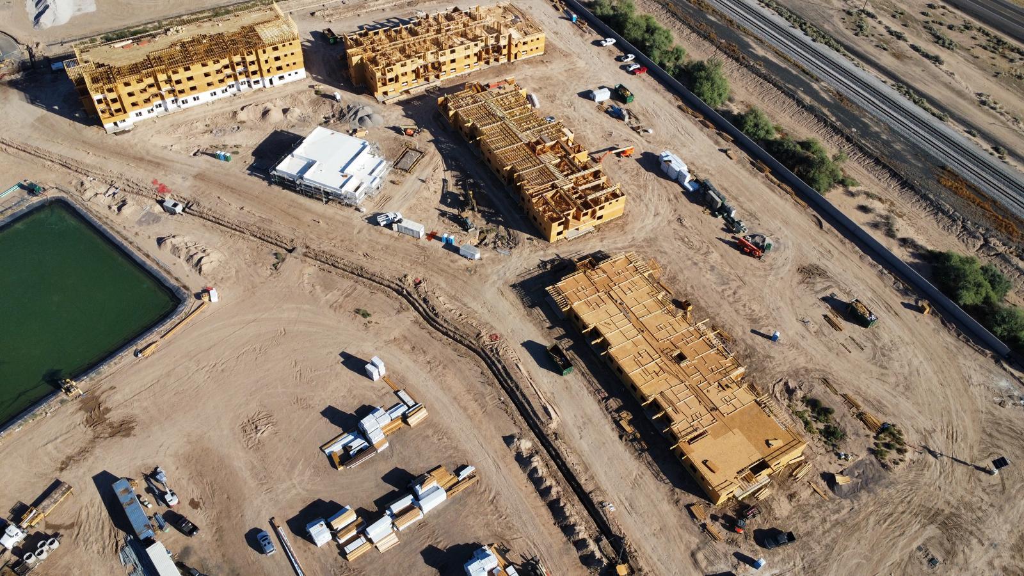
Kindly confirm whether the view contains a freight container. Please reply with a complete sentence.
Yes, a freight container appears in the view.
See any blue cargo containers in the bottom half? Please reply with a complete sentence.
Yes, there is a blue cargo container in the bottom half.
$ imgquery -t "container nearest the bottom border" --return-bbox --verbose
[146,542,178,576]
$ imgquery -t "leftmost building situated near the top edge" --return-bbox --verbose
[64,0,307,135]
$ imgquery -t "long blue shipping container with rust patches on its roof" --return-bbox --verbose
[112,478,159,548]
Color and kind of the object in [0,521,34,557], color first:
white truck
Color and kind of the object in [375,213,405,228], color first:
white vehicle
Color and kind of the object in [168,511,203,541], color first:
black truck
